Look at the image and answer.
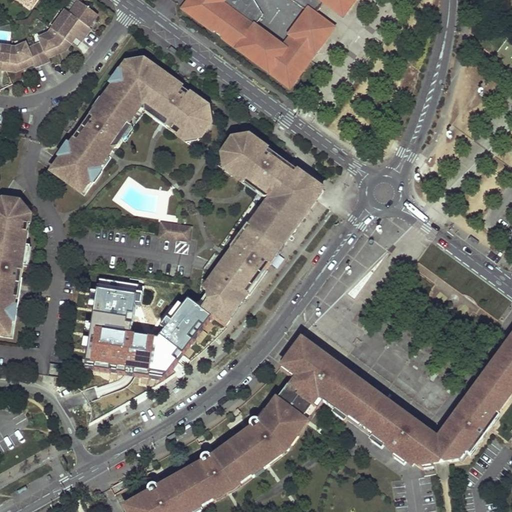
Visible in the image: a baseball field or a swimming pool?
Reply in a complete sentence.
There is a swimming pool in the scene.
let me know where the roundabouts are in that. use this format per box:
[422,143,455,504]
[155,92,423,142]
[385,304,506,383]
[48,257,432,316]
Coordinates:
[358,164,410,216]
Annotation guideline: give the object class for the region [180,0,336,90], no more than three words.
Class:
building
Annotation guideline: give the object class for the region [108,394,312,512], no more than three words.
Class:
house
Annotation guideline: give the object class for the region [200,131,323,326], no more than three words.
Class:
house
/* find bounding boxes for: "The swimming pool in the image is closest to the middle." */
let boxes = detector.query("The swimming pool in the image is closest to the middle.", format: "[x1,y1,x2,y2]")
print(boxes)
[112,176,178,222]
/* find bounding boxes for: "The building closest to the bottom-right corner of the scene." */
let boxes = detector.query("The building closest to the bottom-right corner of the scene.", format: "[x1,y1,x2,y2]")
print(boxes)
[278,330,512,480]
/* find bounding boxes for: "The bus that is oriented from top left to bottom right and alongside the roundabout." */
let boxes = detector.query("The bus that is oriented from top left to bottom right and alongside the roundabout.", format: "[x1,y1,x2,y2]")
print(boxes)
[404,198,430,224]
